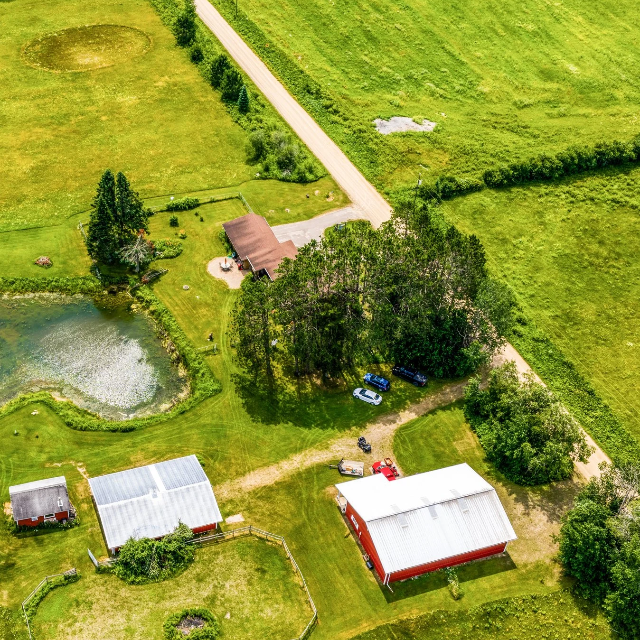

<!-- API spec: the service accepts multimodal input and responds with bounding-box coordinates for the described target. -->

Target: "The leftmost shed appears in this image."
[8,477,72,528]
